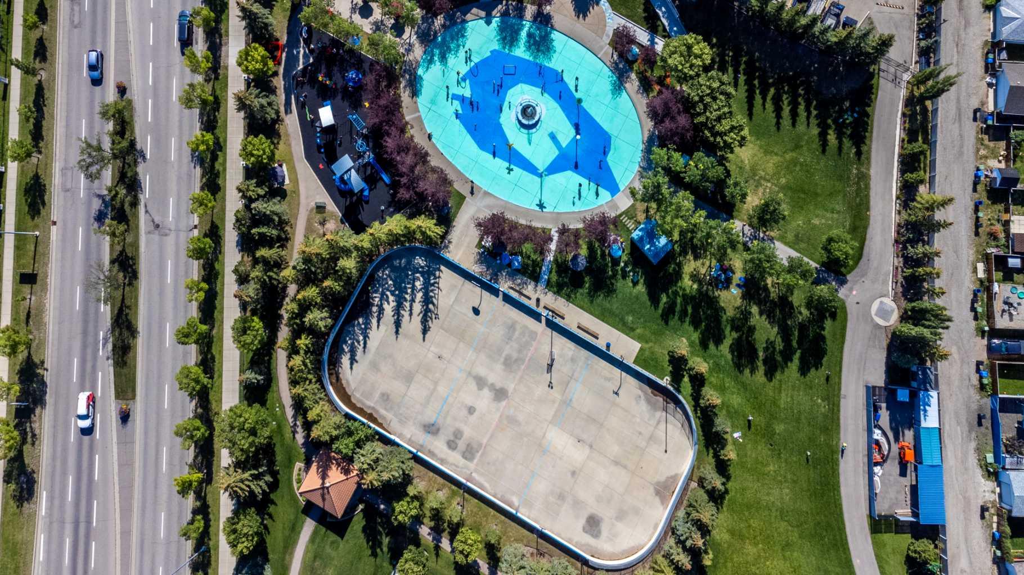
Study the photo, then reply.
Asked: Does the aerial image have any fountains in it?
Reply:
Yes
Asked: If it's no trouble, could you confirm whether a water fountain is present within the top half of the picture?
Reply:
Yes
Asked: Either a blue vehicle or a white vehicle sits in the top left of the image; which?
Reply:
blue vehicle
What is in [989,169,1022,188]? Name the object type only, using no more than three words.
shed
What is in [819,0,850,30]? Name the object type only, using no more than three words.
truck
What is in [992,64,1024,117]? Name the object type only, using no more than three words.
building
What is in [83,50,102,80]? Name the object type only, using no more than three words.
car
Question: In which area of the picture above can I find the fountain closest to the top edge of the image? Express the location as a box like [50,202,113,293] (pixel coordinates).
[512,97,547,130]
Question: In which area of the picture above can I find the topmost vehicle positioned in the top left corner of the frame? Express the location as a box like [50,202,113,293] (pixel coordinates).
[174,8,193,43]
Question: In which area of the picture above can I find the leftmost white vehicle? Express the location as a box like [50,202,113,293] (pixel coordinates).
[75,392,95,426]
